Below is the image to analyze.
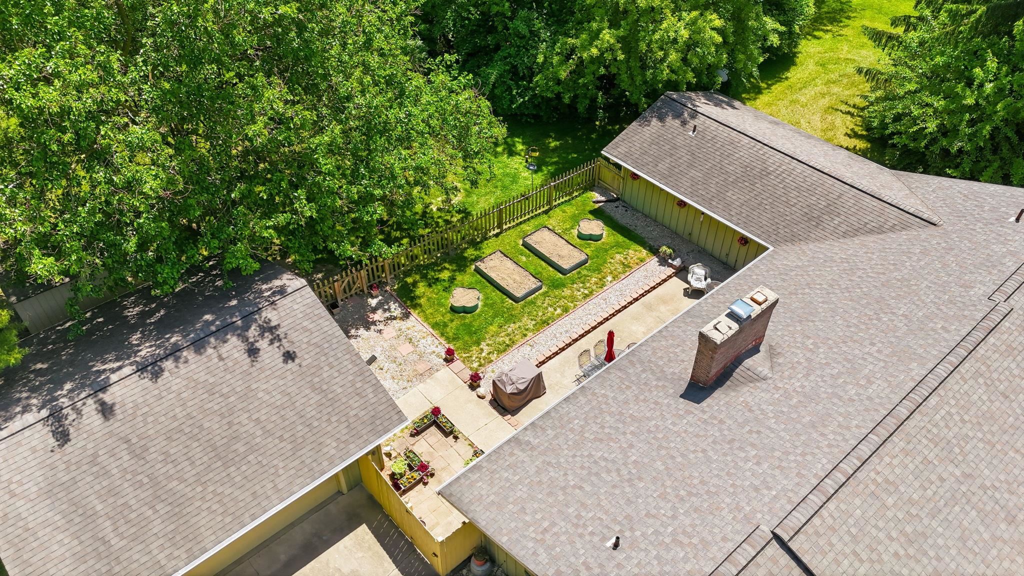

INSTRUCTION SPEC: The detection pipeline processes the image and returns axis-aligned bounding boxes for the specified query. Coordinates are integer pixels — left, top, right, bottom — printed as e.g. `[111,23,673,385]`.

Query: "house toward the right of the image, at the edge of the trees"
[424,92,1024,576]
